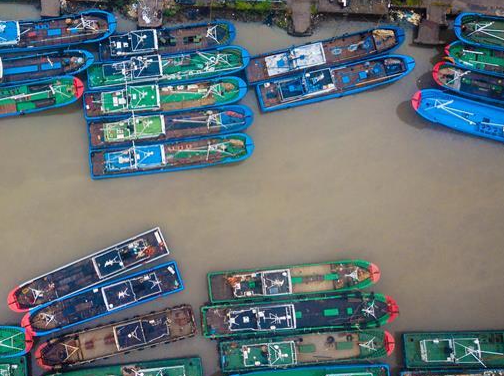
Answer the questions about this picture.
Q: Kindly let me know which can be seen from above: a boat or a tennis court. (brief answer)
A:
boat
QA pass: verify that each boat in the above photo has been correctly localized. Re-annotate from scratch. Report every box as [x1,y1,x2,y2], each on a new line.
[41,358,203,376]
[91,137,256,179]
[432,63,504,106]
[0,76,87,117]
[255,55,417,113]
[0,51,95,87]
[245,30,406,87]
[444,43,504,81]
[6,228,171,306]
[208,260,382,301]
[88,107,254,150]
[398,330,504,367]
[84,79,249,121]
[0,325,36,357]
[34,307,196,365]
[0,14,118,54]
[453,15,504,54]
[223,363,390,376]
[216,330,398,372]
[412,92,504,145]
[99,25,238,63]
[199,294,402,338]
[87,48,252,92]
[22,262,184,334]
